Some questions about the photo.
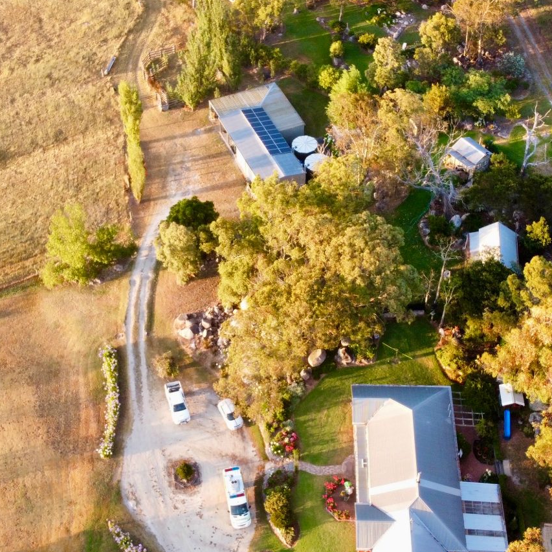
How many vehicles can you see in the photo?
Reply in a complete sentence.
The photo contains 3 vehicles.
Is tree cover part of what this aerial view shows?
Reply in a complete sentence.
Yes, tree cover shows up in the scene.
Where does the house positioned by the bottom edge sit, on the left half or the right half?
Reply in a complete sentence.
The house positioned by the bottom edge appears in the right half of the scene.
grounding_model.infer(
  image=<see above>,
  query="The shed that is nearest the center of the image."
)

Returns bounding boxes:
[203,82,300,193]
